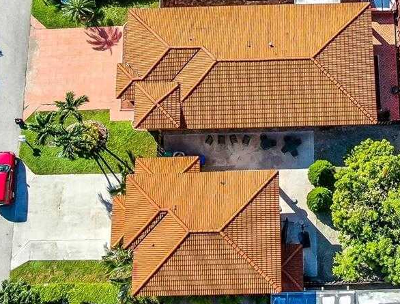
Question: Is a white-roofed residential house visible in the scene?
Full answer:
No, I can't see a single white-roofed residential house in this photo.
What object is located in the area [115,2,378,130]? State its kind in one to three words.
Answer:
house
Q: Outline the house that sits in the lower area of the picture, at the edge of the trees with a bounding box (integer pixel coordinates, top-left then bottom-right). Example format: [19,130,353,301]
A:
[109,154,306,303]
